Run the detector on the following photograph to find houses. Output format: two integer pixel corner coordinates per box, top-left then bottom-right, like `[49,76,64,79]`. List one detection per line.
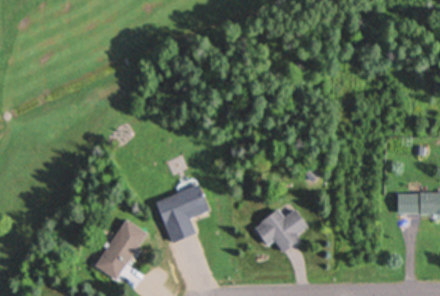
[158,182,210,250]
[398,182,440,216]
[254,212,312,252]
[95,220,148,280]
